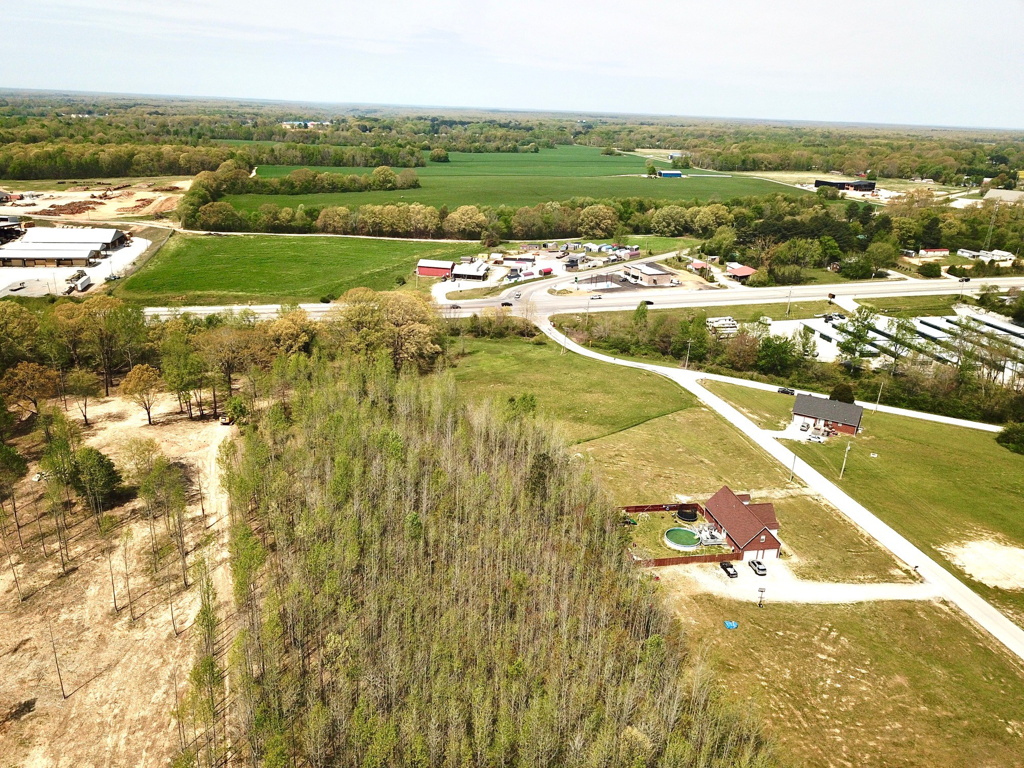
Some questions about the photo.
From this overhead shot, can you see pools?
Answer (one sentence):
Yes, the photo shows a pool.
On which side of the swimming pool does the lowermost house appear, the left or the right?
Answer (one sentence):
Looking at the photo, the lowermost house lies to the right of the swimming pool.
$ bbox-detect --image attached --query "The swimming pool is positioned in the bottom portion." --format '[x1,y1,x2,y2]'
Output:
[665,527,701,551]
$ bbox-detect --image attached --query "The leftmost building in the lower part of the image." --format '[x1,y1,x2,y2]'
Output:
[700,481,783,561]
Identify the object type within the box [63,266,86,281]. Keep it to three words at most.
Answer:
vehicle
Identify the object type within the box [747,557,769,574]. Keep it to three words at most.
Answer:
car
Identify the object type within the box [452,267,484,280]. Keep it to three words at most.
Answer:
building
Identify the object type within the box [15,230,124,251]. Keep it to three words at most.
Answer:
shed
